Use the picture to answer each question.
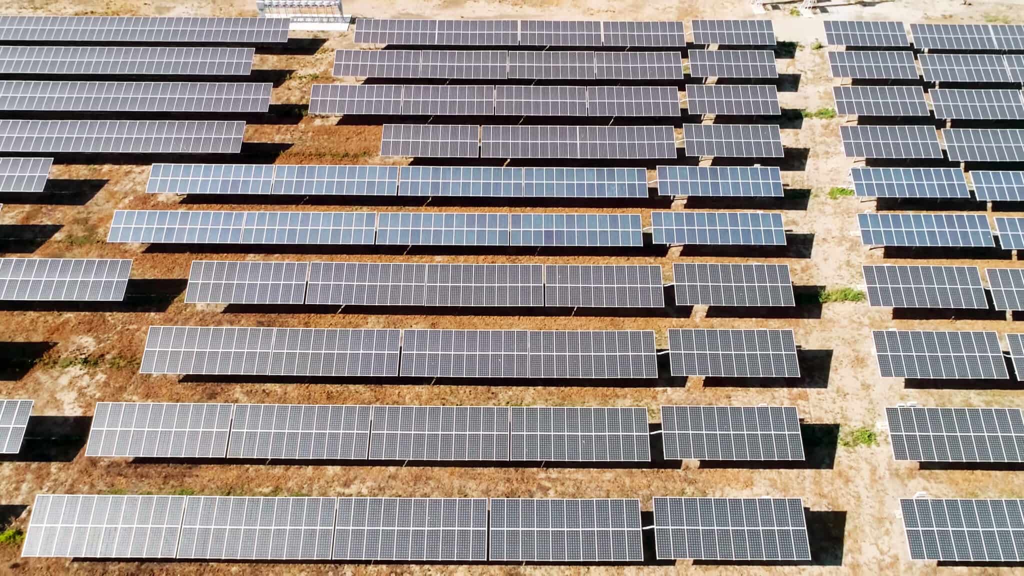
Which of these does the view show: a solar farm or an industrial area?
solar farm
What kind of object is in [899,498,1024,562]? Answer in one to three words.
solar array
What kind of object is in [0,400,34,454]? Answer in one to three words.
solar array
